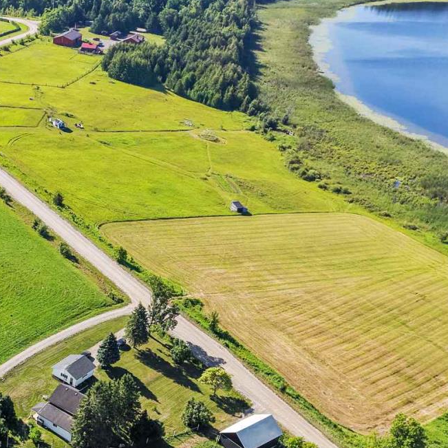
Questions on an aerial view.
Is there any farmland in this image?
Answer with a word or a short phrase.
Yes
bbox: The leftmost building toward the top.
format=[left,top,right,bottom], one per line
[54,28,85,47]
